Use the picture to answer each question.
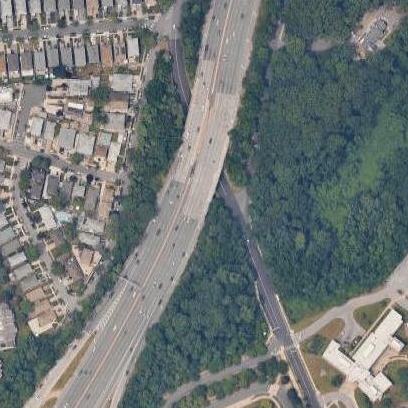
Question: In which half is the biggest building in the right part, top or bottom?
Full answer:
The bottom half of the photo is where the biggest building in the right part is.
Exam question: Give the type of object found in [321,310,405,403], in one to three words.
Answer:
building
